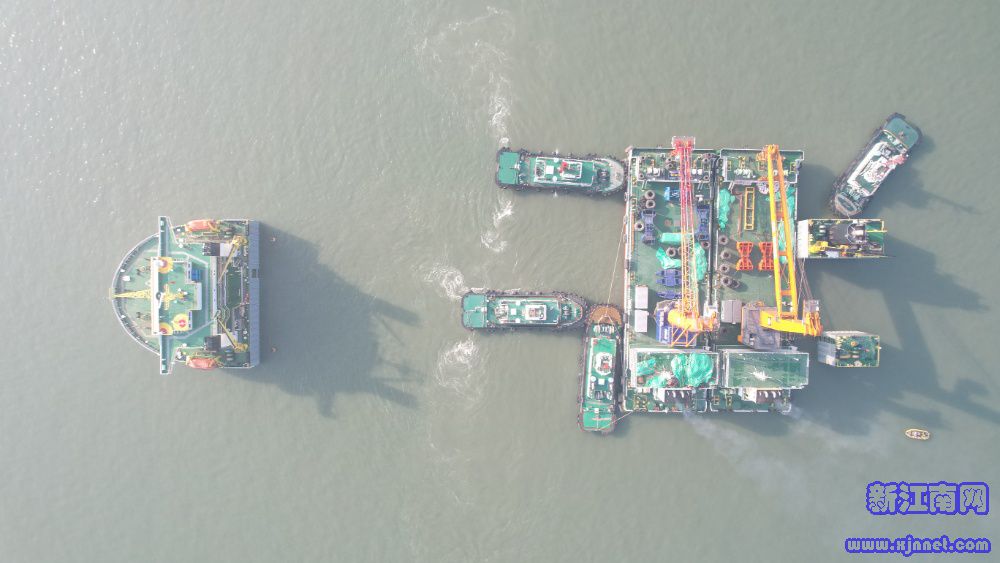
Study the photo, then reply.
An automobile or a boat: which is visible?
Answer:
boat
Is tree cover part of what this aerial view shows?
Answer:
No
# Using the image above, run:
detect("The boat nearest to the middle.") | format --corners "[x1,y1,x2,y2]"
[460,289,591,333]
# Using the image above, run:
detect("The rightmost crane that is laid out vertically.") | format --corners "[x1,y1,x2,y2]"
[735,144,824,350]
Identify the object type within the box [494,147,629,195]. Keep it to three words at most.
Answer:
boat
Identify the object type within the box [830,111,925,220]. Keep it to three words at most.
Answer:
boat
